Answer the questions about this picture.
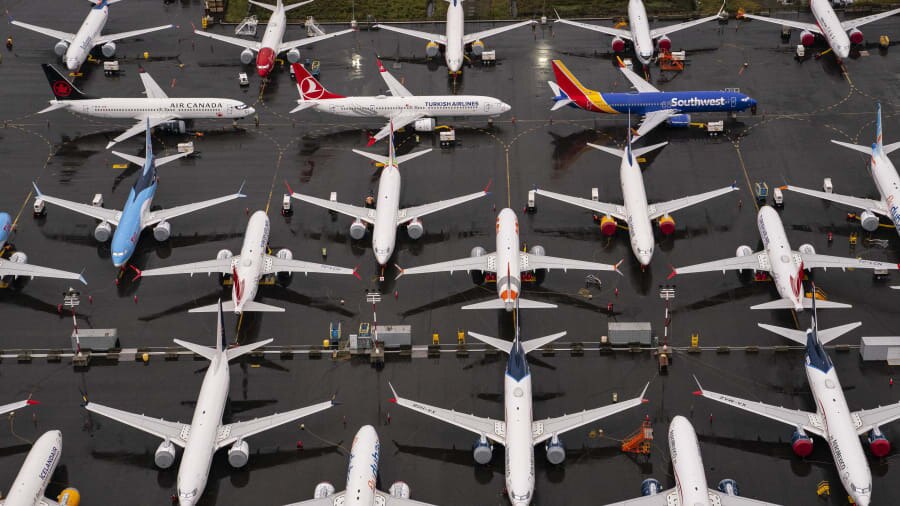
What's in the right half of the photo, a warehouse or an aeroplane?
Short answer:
aeroplane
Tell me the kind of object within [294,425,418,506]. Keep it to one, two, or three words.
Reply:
airplane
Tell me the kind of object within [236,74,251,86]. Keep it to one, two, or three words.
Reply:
vehicle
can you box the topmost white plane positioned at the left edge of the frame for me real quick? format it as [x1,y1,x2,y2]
[9,0,177,74]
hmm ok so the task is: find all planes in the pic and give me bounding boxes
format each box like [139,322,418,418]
[0,216,90,286]
[9,0,177,74]
[527,107,739,262]
[547,53,752,146]
[35,115,246,270]
[0,430,81,506]
[393,206,624,313]
[288,55,509,148]
[694,283,900,502]
[190,0,360,82]
[670,206,900,313]
[284,112,494,267]
[294,425,418,506]
[370,0,540,75]
[584,416,850,506]
[388,291,650,506]
[80,296,342,506]
[39,58,249,150]
[780,103,900,242]
[553,0,722,69]
[131,209,363,315]
[737,0,900,63]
